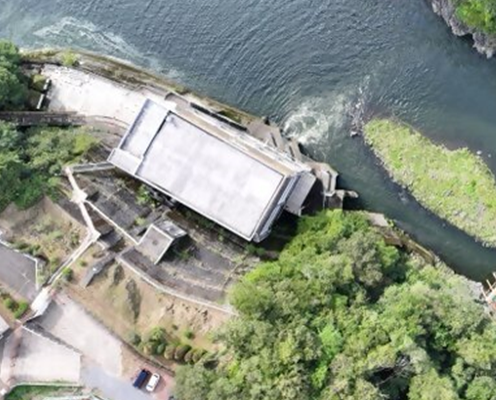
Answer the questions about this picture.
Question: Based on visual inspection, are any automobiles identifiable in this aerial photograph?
Yes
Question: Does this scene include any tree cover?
Yes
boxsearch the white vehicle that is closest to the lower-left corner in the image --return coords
[145,372,161,393]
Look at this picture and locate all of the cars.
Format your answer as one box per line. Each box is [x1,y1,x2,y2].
[133,367,150,389]
[145,372,161,393]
